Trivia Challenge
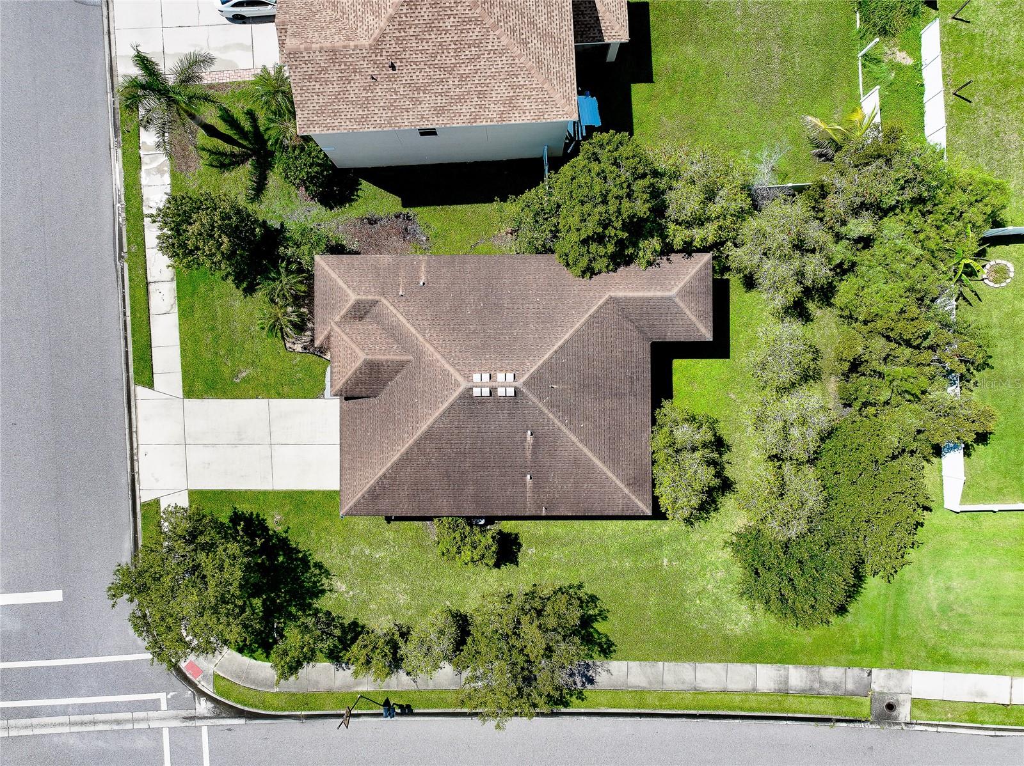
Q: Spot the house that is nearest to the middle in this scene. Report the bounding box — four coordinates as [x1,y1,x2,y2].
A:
[314,254,713,517]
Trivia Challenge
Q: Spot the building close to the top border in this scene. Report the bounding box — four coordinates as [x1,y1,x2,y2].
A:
[272,0,631,167]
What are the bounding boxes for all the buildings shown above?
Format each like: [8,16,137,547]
[314,254,713,517]
[272,0,631,167]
